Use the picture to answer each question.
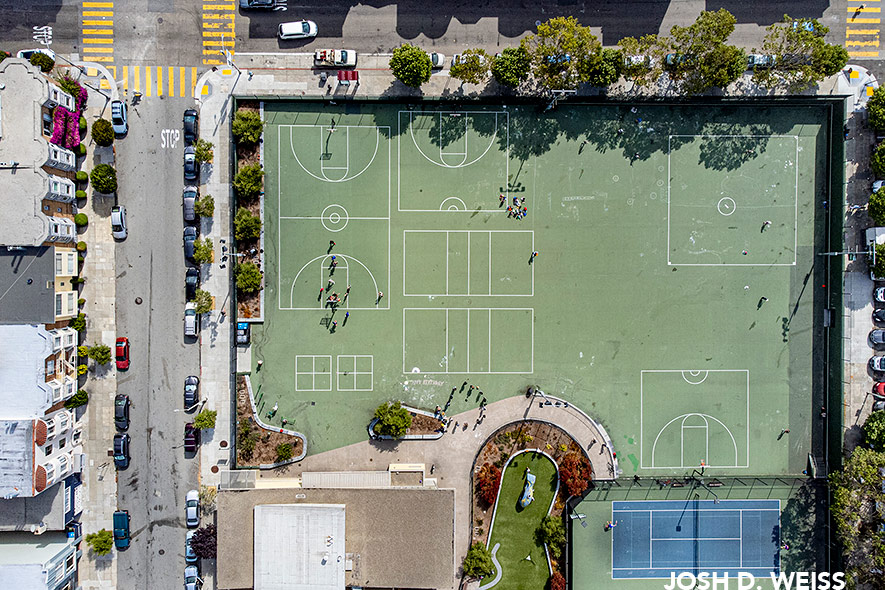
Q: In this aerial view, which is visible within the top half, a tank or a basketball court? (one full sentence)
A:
There is a basketball court within the top half.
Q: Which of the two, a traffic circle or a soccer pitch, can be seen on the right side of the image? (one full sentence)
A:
What appears on the right side of the image is a soccer pitch.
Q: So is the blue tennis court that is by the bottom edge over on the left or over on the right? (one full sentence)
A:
The blue tennis court that is by the bottom edge is on the right side of the image.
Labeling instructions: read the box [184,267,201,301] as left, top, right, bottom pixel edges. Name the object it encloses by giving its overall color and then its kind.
black car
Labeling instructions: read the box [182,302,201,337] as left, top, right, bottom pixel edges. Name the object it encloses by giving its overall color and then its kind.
white car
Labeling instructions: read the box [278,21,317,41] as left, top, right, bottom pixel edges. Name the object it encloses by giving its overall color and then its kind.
white car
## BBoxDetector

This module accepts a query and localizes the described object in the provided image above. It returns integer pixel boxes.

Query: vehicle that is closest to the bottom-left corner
[112,508,131,552]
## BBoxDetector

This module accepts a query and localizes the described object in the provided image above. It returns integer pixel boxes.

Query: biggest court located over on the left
[278,125,391,309]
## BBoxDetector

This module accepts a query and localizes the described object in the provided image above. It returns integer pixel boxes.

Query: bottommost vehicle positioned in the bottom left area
[183,563,204,590]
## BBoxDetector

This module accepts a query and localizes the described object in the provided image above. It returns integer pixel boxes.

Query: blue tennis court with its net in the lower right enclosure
[612,491,780,590]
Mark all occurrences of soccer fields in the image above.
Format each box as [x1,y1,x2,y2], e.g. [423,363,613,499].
[667,136,798,265]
